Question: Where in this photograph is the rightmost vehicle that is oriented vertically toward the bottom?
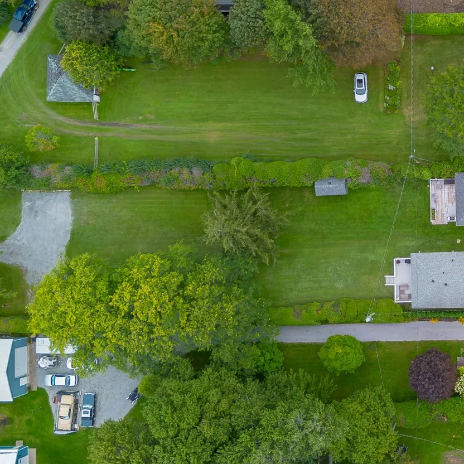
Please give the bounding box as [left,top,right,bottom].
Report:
[77,392,96,428]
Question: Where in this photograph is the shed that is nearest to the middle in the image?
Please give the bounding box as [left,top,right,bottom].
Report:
[313,180,350,196]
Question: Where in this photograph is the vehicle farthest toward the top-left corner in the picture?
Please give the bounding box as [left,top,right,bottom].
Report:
[5,0,37,35]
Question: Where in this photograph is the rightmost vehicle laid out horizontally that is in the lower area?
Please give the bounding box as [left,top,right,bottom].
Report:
[64,357,98,373]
